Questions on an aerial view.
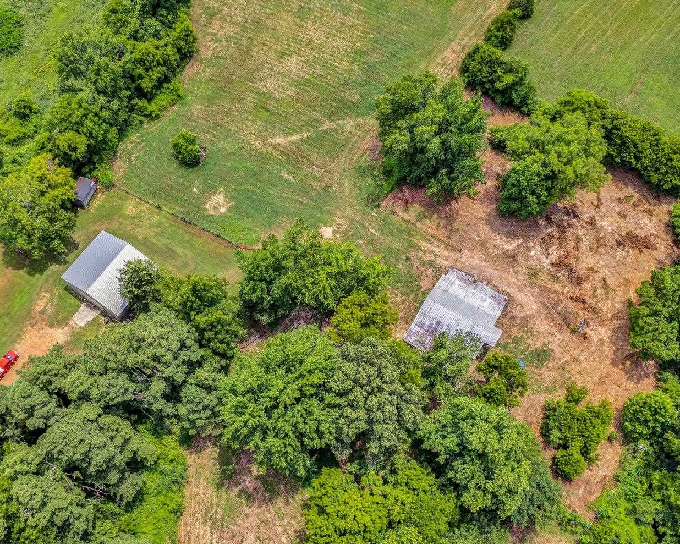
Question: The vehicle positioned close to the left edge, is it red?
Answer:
Yes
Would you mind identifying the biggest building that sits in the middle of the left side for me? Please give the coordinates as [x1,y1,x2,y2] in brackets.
[61,229,161,314]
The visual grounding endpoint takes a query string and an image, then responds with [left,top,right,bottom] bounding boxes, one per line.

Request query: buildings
[67,174,95,207]
[61,229,161,314]
[405,269,508,362]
